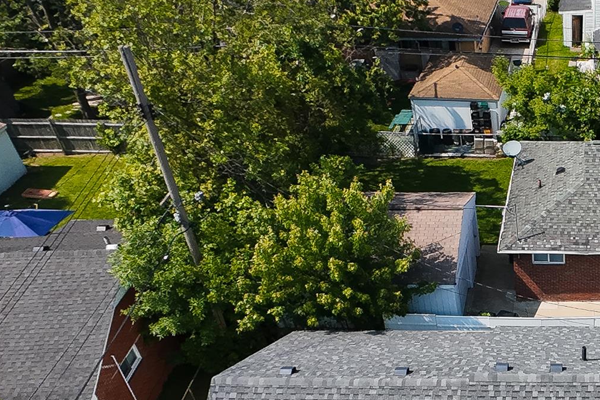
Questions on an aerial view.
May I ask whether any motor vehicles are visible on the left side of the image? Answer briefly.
No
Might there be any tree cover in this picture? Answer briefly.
Yes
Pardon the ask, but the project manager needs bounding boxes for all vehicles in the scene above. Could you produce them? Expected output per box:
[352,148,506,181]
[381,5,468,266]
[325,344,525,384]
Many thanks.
[512,0,536,13]
[502,6,533,39]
